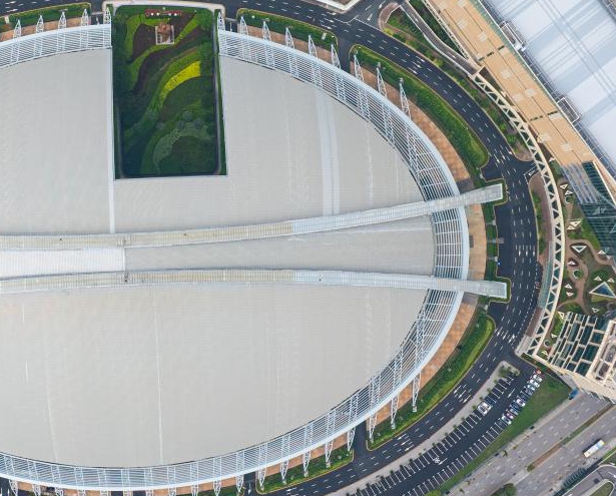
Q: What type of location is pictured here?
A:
sports ground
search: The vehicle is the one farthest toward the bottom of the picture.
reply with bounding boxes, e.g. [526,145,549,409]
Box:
[584,438,609,457]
